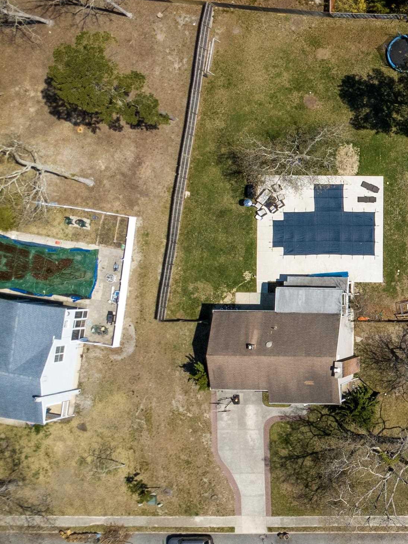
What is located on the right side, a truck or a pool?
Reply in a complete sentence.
The one visible on the right side is a pool.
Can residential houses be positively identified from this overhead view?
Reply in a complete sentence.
Yes, there is a residential house in the image.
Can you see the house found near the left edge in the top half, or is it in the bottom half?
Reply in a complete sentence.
Seen from above, the house found near the left edge lies in the bottom half of the view.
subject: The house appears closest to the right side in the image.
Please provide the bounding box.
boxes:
[206,276,369,405]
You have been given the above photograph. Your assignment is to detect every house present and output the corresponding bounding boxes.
[206,276,369,405]
[0,286,89,431]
